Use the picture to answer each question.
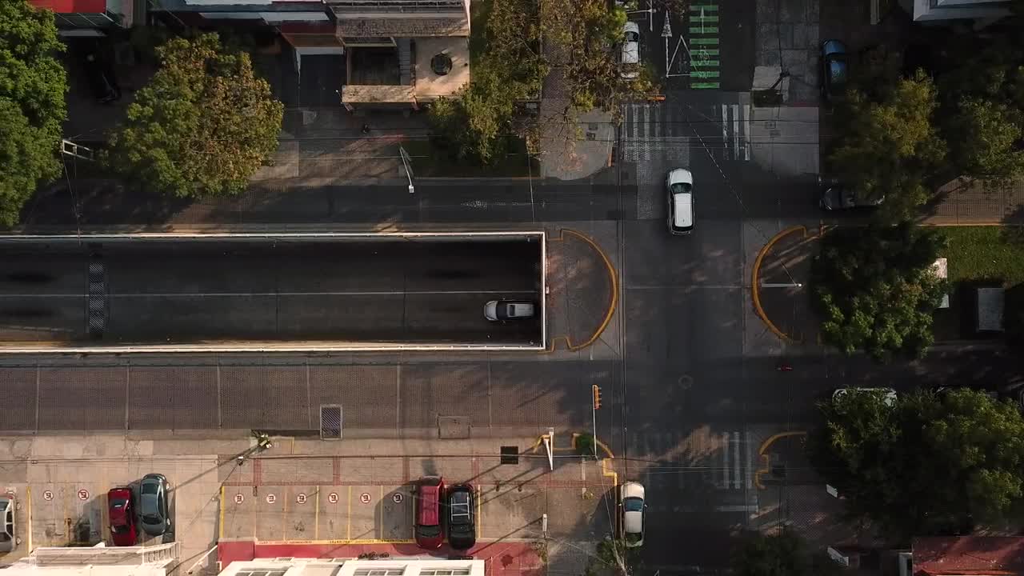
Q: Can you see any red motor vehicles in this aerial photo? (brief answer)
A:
Yes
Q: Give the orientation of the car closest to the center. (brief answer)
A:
horizontally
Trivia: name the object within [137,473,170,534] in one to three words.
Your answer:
car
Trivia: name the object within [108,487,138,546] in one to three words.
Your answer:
car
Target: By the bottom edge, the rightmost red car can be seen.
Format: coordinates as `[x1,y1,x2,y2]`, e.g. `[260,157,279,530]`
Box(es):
[413,477,446,549]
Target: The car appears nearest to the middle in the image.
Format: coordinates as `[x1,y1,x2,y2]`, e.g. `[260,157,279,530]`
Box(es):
[485,299,537,324]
